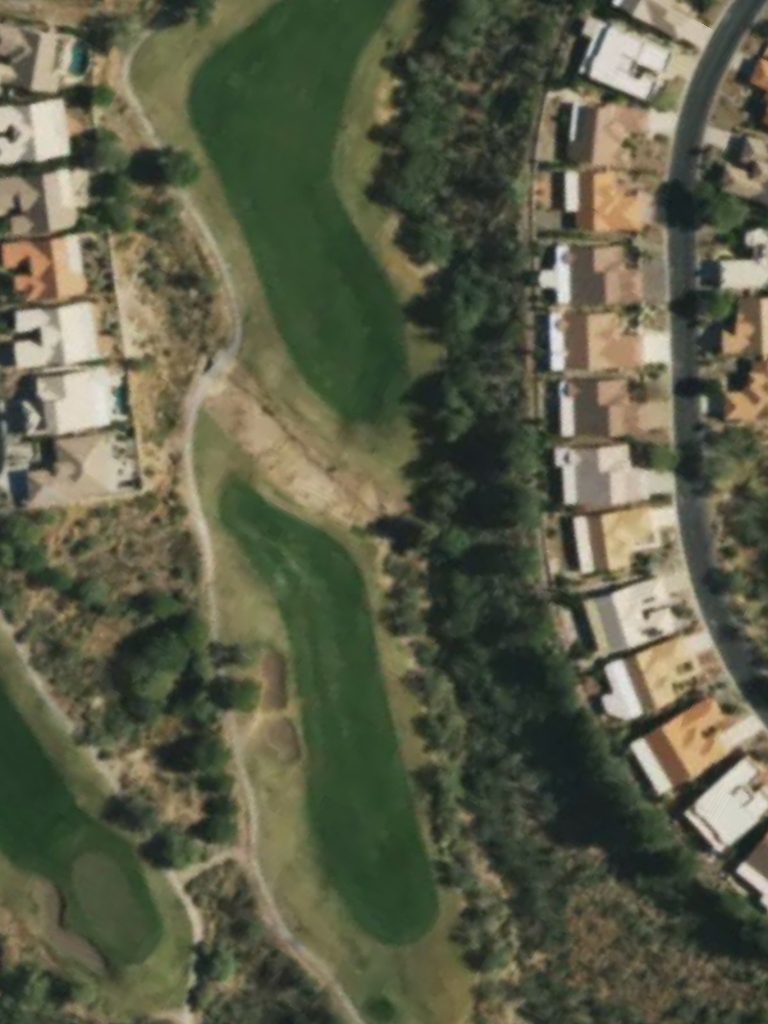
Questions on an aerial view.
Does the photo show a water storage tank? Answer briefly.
No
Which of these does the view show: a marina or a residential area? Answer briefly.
residential area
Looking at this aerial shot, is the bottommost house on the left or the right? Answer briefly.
right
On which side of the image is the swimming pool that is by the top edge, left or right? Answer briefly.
left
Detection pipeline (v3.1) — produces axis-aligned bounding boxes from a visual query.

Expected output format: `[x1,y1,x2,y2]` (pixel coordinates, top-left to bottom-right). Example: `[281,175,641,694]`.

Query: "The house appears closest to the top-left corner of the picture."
[0,20,66,92]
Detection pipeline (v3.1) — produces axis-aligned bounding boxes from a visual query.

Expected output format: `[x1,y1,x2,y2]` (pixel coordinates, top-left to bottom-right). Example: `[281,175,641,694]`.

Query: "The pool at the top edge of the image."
[69,42,89,76]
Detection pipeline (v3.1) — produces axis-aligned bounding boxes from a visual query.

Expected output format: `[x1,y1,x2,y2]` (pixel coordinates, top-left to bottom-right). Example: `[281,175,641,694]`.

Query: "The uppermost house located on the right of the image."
[614,0,690,35]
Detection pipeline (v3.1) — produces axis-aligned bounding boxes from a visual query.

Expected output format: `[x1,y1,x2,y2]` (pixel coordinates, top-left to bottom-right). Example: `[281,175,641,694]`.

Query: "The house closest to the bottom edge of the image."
[737,835,768,898]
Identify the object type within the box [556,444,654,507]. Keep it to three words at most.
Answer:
house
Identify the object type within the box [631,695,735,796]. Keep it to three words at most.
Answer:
house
